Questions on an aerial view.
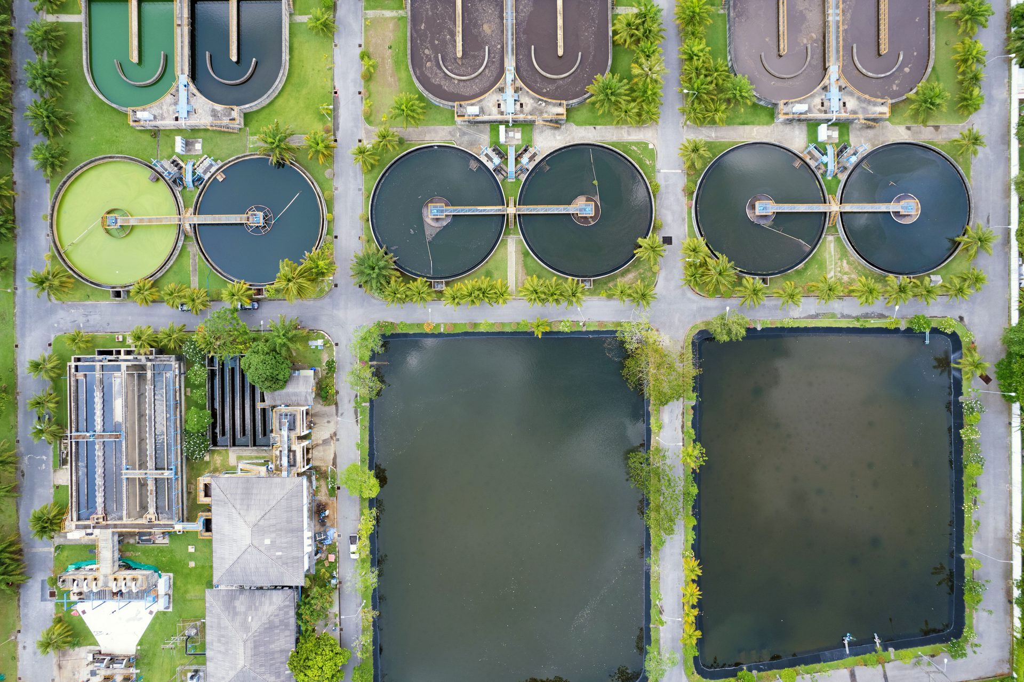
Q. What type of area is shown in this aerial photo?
industrial area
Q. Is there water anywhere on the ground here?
Yes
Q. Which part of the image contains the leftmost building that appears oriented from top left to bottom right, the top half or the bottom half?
top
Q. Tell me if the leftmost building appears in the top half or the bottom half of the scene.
bottom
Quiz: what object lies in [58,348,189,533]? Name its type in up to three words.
storage tank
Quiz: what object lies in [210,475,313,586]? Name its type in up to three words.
building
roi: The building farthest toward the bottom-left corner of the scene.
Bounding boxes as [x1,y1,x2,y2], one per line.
[57,567,160,600]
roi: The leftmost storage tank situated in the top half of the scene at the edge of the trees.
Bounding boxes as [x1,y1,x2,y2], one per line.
[51,155,189,297]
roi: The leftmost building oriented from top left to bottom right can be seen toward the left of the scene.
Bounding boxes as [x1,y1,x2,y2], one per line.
[151,156,187,190]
